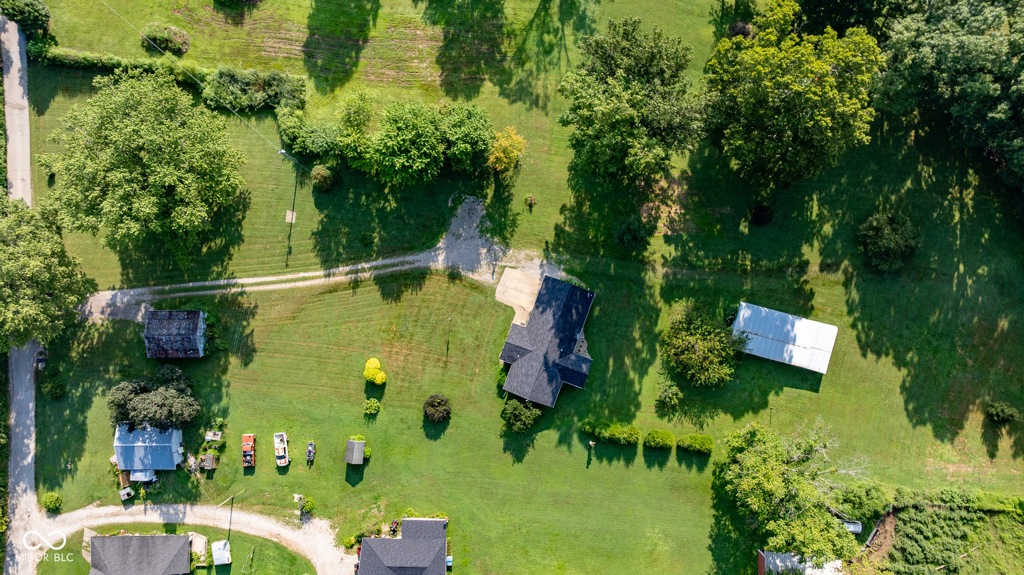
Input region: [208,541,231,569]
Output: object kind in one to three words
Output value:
shed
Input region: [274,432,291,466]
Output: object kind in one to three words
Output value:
vehicle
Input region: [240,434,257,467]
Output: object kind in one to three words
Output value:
vehicle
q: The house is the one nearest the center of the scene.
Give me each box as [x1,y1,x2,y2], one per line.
[499,275,596,408]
